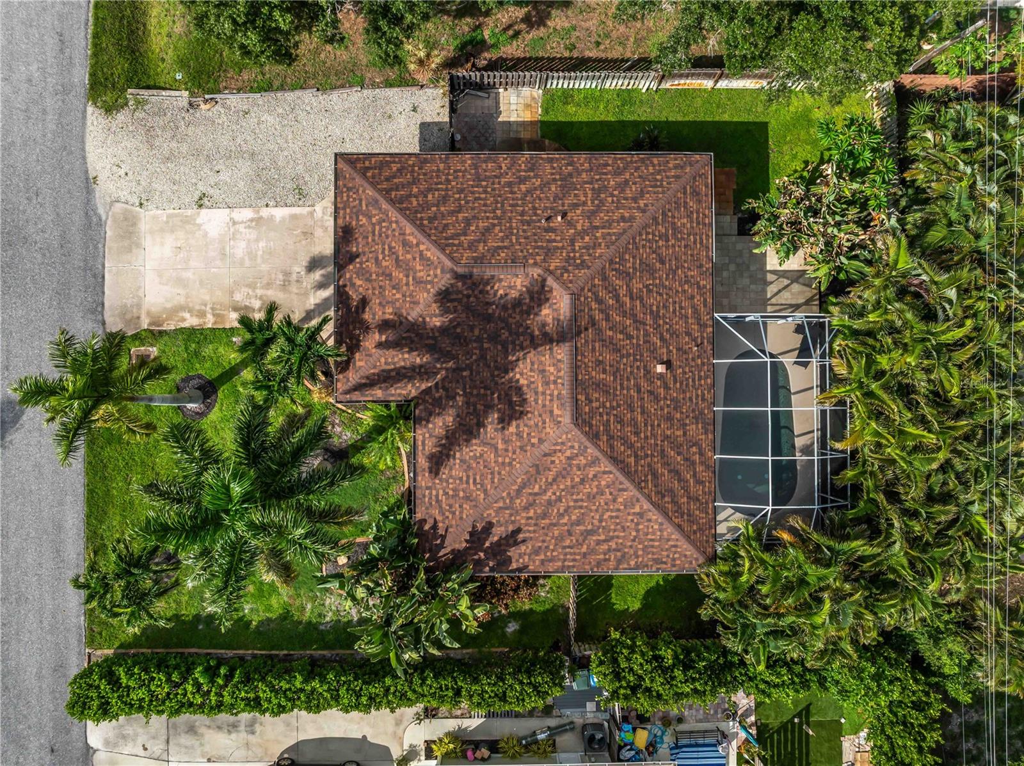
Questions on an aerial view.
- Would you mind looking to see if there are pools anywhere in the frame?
Yes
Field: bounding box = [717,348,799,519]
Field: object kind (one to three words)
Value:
swimming pool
